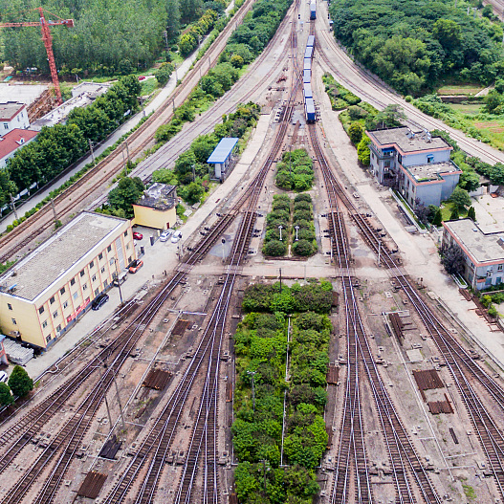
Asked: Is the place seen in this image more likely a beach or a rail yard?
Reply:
rail yard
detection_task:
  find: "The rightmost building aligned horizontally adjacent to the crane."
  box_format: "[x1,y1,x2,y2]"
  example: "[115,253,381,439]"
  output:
[73,82,113,100]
